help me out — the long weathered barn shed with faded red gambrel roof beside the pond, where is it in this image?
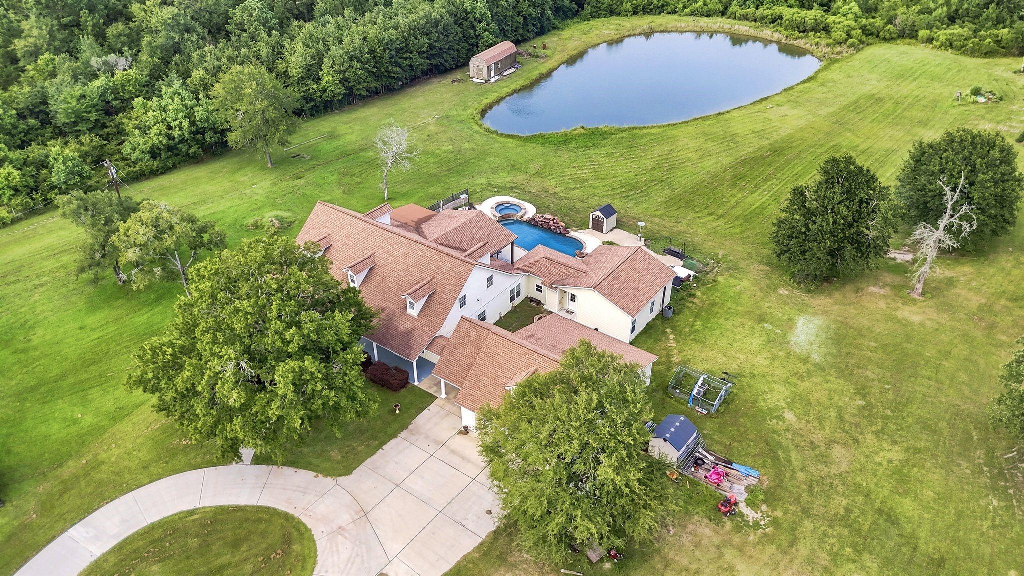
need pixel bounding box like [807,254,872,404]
[468,44,524,81]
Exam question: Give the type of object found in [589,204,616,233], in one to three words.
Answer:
shed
